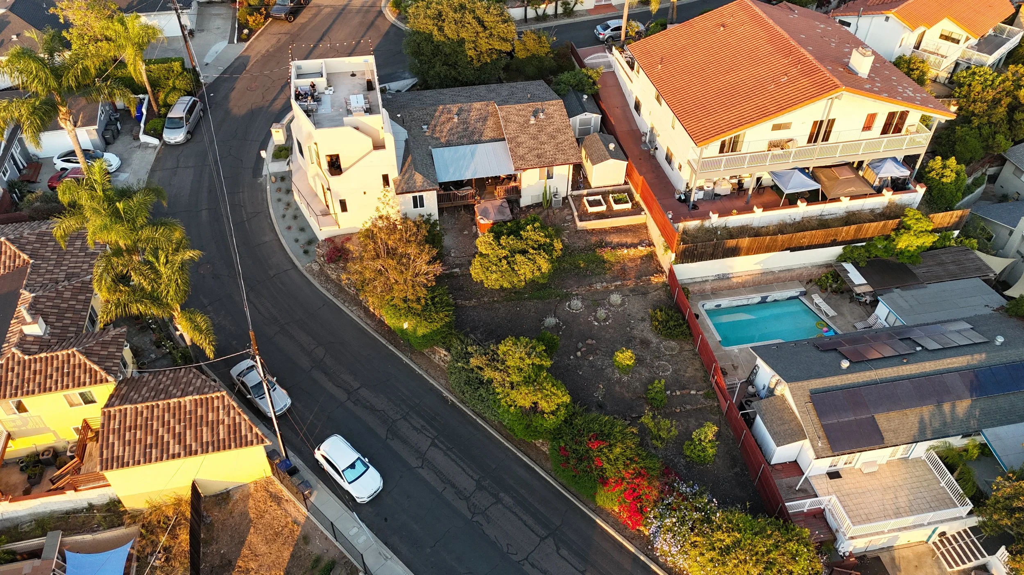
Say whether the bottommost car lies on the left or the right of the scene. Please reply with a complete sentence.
The bottommost car sits on the left side.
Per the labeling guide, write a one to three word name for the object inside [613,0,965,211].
house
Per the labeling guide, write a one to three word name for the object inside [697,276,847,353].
swimming pool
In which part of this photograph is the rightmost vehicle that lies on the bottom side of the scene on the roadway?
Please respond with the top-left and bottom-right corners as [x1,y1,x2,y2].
[312,433,383,505]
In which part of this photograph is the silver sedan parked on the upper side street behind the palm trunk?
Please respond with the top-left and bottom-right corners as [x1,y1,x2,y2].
[594,19,646,43]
